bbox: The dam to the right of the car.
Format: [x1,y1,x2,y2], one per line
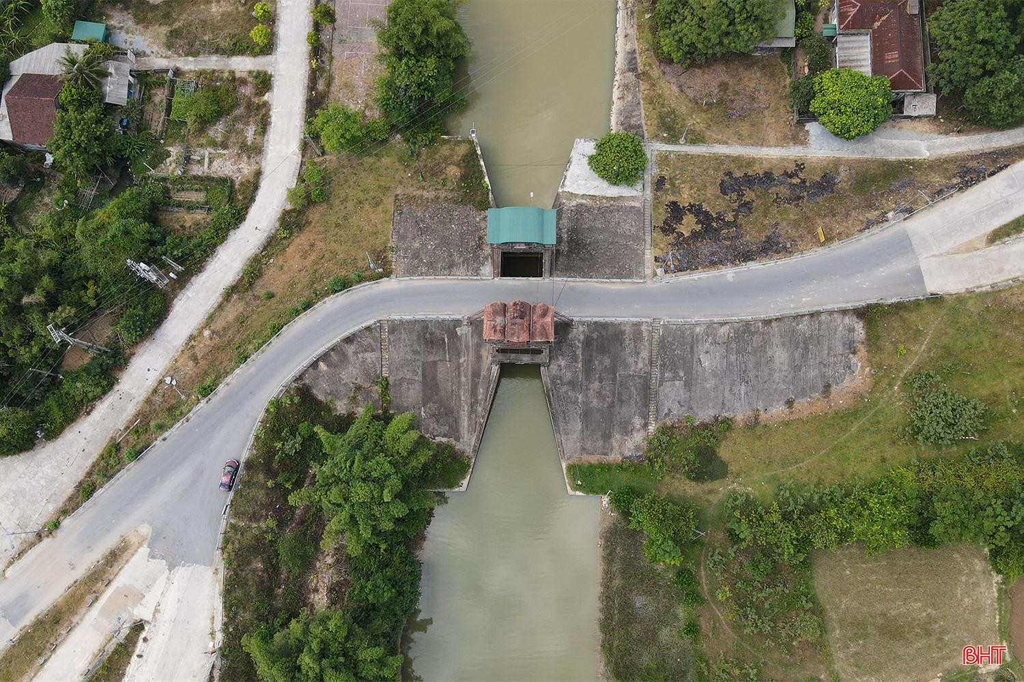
[280,128,864,496]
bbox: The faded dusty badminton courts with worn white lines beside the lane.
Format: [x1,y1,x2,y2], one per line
[329,0,389,104]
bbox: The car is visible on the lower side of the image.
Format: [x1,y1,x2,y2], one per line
[216,457,237,493]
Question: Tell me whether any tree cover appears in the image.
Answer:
Yes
